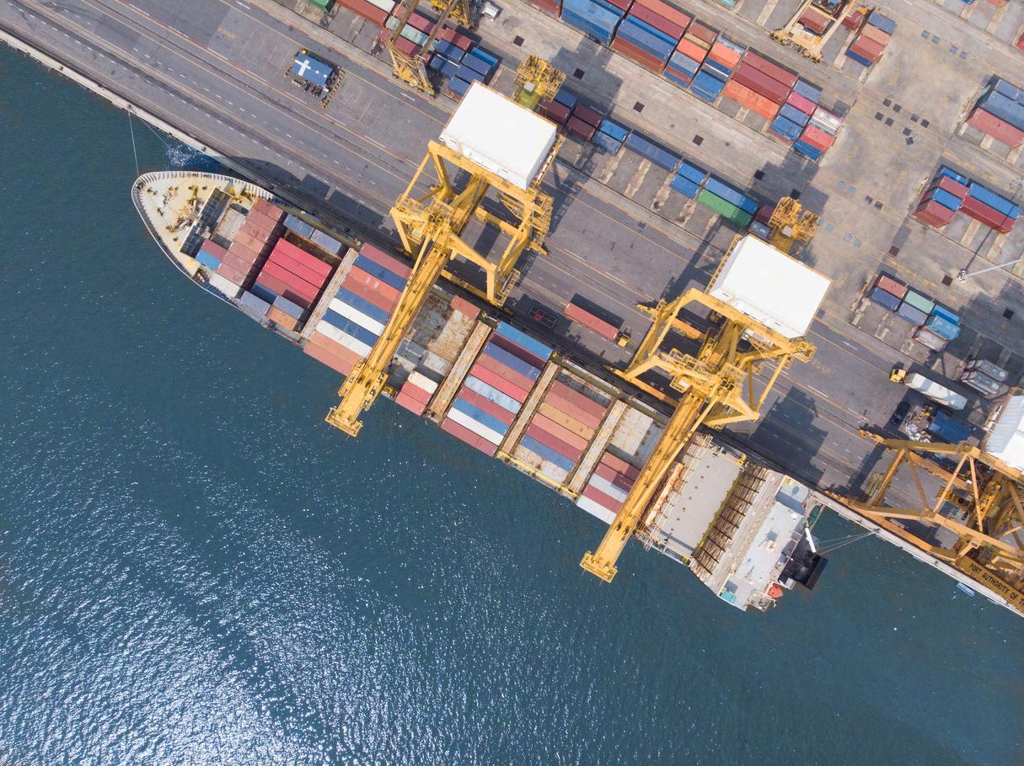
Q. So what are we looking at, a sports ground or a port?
port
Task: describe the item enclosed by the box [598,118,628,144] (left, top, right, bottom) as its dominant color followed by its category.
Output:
blue shipping container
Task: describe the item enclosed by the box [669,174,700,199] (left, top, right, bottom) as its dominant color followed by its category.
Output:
blue shipping container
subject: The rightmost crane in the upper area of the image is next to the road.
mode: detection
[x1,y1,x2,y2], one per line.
[768,0,860,64]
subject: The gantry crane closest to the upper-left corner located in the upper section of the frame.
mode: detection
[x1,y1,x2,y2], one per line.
[379,0,480,101]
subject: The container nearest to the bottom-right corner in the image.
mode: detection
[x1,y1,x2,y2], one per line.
[907,374,966,410]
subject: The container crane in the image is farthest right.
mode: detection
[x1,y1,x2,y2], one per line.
[818,367,1024,610]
